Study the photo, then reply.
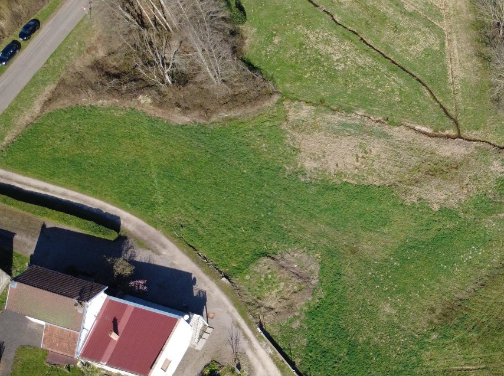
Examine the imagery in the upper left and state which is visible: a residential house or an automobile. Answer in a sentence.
Visible in the upper left is an automobile.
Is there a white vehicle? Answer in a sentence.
No, the picture doesn't show any white vehicle.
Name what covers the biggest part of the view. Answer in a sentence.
The bulk of the photo consists of grass.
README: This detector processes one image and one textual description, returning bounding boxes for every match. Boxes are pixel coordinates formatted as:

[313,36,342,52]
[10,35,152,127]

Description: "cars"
[13,17,41,39]
[0,39,21,63]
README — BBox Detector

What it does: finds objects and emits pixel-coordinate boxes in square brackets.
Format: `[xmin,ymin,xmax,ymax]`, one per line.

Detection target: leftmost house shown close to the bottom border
[3,265,111,367]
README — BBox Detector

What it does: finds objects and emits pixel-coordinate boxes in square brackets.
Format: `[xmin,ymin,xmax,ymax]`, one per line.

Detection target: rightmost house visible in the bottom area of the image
[77,294,192,376]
